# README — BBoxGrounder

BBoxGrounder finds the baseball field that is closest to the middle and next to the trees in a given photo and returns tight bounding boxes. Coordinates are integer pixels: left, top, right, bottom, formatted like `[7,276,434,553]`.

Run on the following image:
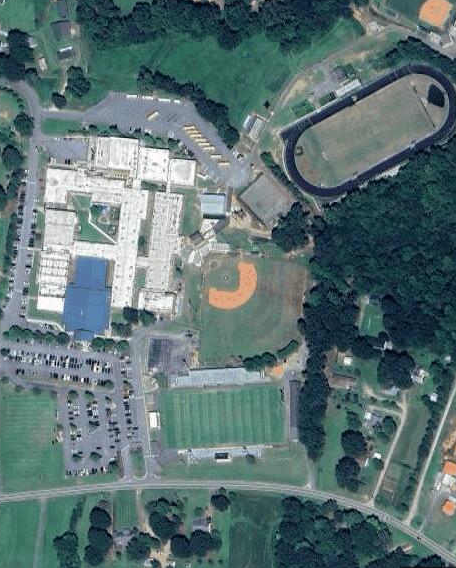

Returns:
[200,258,309,362]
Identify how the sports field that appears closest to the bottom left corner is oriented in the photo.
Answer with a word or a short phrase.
from left to right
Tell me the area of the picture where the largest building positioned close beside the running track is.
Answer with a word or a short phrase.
left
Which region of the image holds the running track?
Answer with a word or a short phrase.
top right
